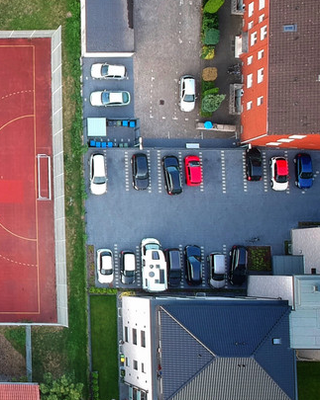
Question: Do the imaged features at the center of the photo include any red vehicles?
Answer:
Yes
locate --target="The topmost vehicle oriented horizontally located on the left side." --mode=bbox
[90,62,126,80]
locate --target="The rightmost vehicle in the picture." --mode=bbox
[293,153,315,190]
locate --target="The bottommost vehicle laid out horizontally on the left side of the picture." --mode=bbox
[89,90,130,107]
